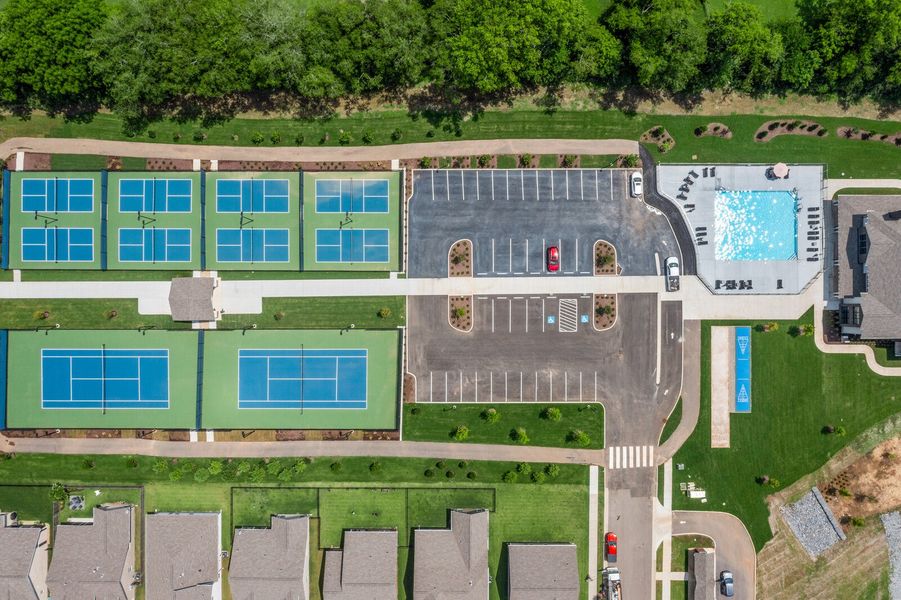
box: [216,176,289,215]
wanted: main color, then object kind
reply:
blue sports court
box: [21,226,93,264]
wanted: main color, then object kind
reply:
blue sports court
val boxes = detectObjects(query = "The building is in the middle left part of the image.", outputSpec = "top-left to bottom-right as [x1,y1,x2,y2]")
[169,277,216,321]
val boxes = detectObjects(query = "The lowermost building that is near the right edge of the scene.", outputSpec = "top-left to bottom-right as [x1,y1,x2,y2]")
[830,194,901,358]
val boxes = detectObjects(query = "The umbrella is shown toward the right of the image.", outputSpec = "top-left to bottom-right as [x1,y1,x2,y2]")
[773,163,788,177]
